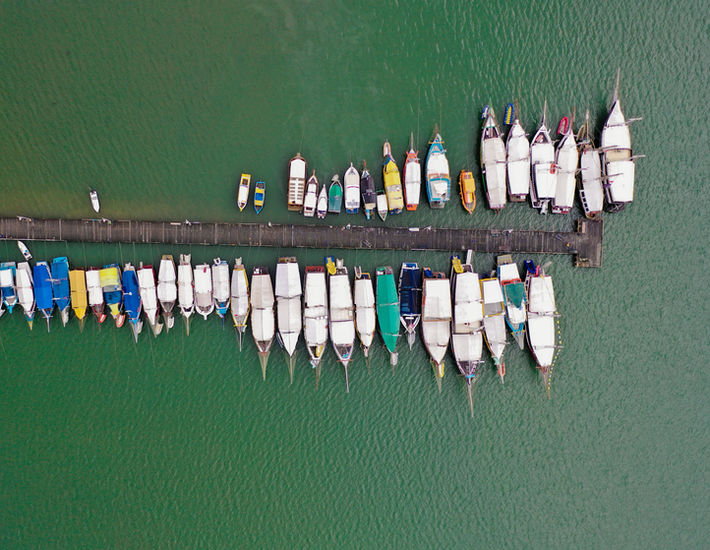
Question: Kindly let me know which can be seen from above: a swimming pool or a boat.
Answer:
boat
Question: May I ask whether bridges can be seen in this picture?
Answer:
No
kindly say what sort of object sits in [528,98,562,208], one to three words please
boat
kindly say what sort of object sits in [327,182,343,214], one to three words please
boat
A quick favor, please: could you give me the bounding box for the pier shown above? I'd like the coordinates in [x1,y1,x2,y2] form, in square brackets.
[0,216,604,268]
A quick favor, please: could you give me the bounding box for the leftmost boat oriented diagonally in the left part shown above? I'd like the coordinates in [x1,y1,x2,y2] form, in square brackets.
[18,241,33,261]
